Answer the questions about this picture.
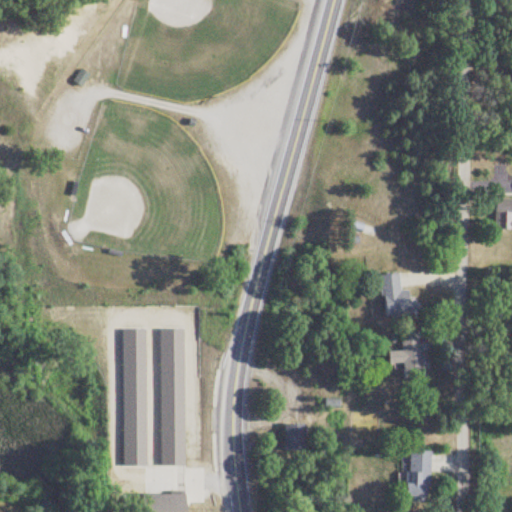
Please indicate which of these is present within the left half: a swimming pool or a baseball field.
baseball field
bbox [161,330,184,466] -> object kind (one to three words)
building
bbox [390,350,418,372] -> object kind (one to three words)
house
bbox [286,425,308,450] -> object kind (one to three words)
house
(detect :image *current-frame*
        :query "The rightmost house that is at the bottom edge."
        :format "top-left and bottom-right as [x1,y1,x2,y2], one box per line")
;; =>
[408,452,434,498]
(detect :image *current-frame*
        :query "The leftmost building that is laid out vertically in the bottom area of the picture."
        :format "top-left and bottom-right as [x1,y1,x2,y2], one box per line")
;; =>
[124,330,147,466]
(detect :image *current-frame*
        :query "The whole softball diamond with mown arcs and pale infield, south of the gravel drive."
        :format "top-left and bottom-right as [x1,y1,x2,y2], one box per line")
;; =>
[66,98,224,262]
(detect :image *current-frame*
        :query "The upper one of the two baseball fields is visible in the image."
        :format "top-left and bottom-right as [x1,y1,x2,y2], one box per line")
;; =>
[118,0,300,102]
